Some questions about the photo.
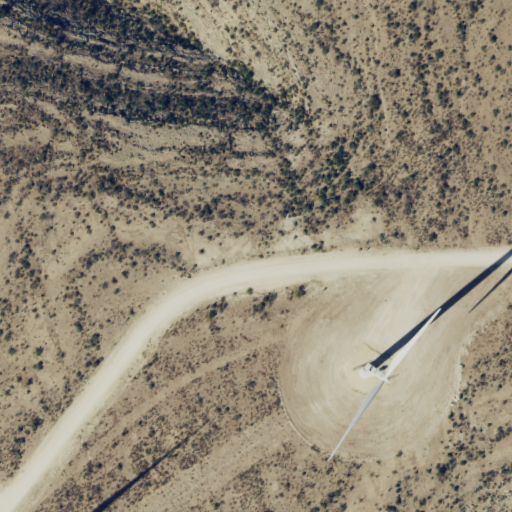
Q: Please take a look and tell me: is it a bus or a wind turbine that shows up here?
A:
wind turbine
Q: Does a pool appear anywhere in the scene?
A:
No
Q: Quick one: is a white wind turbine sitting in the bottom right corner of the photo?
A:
Yes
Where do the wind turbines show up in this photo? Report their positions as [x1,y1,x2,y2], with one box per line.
[332,308,440,461]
